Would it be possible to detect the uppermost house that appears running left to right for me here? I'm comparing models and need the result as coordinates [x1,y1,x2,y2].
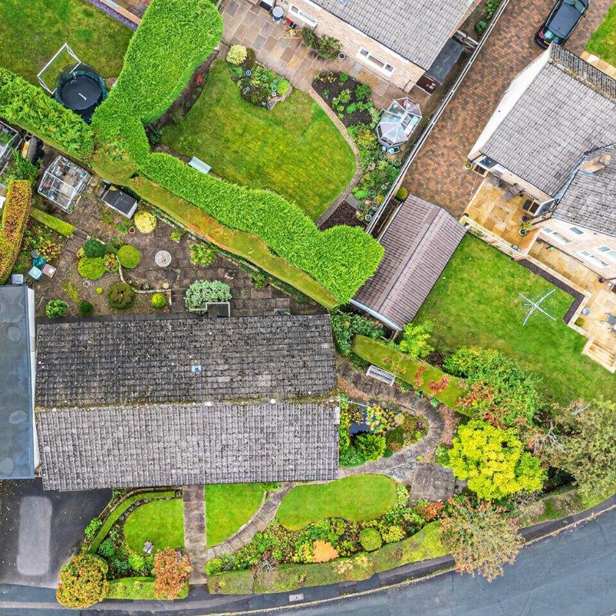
[254,0,481,91]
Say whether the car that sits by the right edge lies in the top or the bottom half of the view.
top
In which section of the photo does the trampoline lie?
top left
